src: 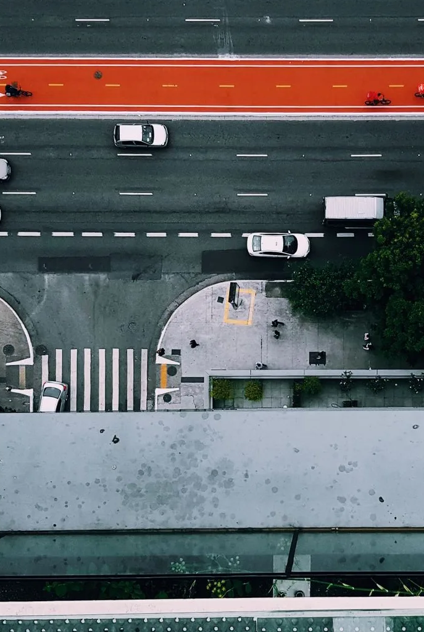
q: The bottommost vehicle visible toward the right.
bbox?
[247,229,310,259]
